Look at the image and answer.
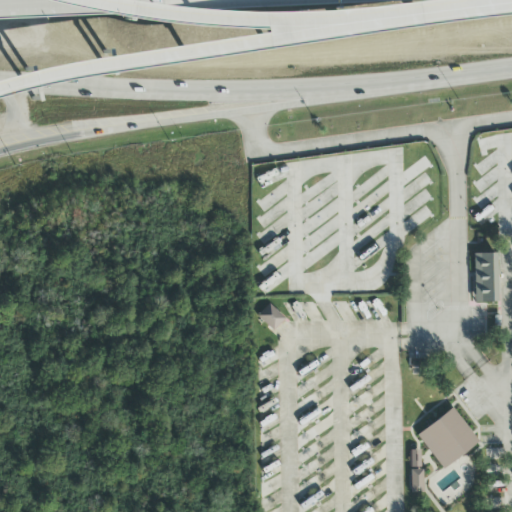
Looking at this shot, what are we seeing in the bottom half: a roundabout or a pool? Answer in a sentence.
There is a pool in the bottom half.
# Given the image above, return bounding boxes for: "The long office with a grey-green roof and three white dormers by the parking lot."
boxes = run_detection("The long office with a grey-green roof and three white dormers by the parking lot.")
[476,253,500,302]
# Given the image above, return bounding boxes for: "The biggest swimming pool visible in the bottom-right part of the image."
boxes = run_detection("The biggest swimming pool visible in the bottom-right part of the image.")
[428,456,475,504]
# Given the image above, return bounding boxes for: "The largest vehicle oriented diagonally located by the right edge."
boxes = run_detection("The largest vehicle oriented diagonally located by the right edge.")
[474,205,495,221]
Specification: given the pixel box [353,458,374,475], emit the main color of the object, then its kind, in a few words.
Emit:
white camper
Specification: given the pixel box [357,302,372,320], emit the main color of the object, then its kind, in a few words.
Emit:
white vehicle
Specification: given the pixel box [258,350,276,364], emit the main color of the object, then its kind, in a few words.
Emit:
white vehicle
